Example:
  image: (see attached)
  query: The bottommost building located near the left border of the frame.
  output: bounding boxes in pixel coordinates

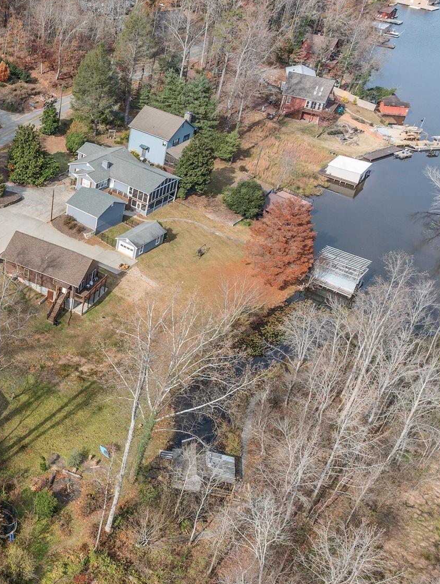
[0,230,115,323]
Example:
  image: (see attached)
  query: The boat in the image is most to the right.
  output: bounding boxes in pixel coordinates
[414,134,440,149]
